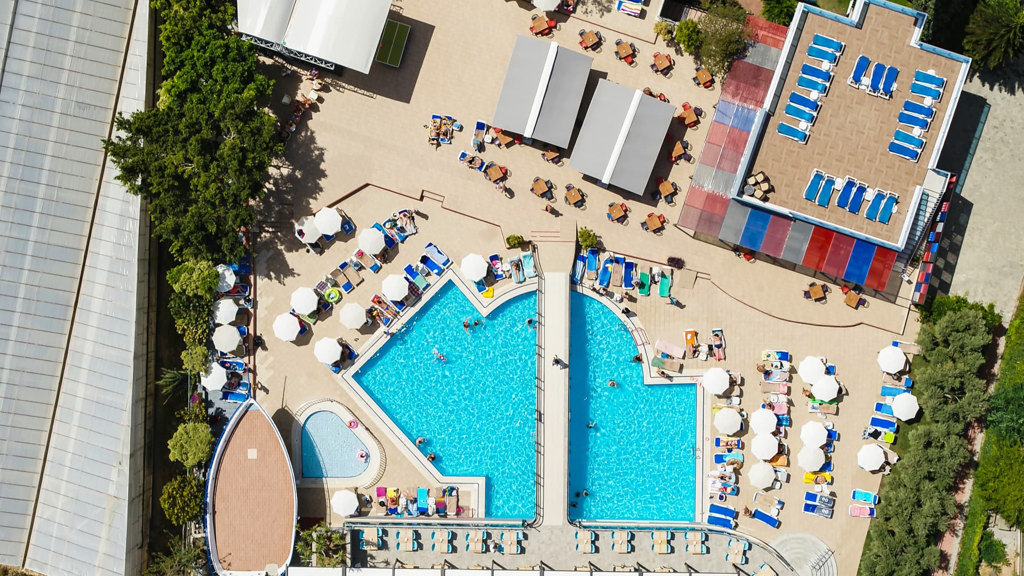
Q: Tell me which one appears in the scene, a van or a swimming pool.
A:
swimming pool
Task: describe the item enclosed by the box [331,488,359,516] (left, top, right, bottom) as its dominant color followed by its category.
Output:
white umbrella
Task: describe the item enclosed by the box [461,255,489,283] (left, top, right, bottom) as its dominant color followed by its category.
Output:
white umbrella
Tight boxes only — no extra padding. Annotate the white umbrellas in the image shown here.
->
[878,345,905,372]
[712,405,740,433]
[295,216,322,244]
[339,302,367,330]
[703,367,731,395]
[750,409,778,436]
[331,488,359,516]
[749,434,776,460]
[313,207,341,236]
[212,297,240,325]
[809,375,838,402]
[461,255,489,283]
[200,363,228,391]
[891,393,919,422]
[856,443,885,472]
[273,313,300,340]
[797,445,826,471]
[797,419,826,446]
[313,336,342,364]
[213,325,240,352]
[358,229,387,257]
[797,353,826,382]
[292,288,320,315]
[382,275,411,303]
[746,460,774,488]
